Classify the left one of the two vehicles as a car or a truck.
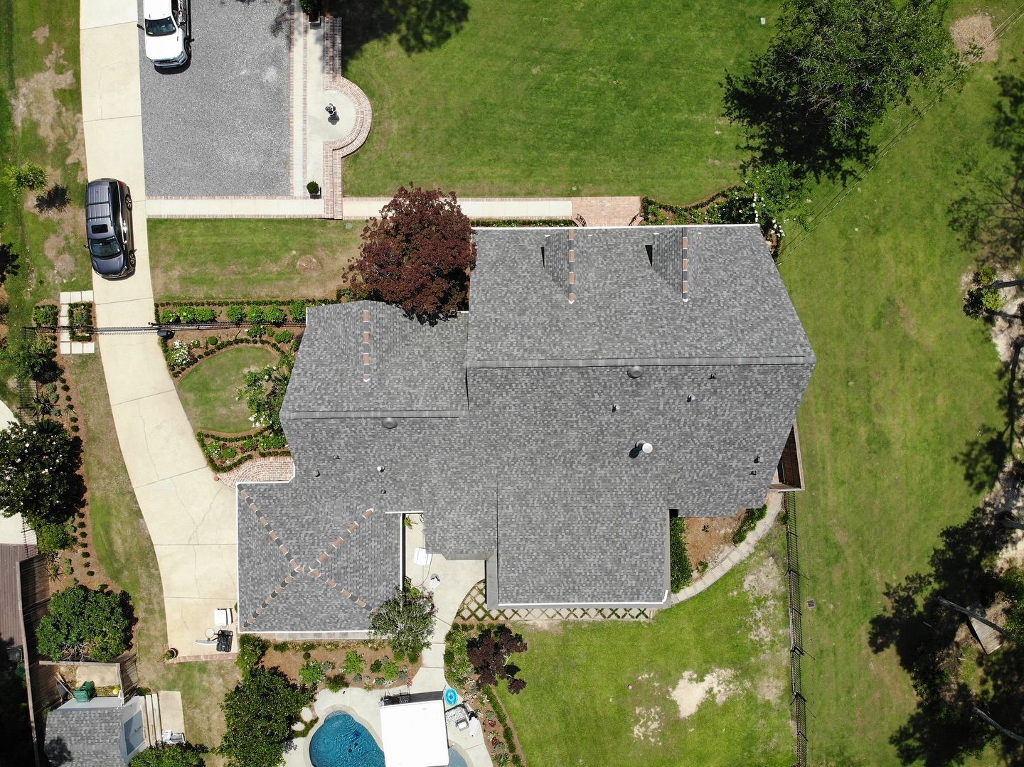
car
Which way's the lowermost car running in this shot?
vertically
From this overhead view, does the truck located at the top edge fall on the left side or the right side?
left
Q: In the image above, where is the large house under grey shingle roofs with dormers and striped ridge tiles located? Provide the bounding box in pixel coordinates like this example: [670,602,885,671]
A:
[236,225,813,635]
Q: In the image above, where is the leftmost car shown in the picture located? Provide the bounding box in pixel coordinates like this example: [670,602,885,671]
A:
[86,177,139,280]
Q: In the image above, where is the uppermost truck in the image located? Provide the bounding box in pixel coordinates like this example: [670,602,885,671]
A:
[136,0,193,72]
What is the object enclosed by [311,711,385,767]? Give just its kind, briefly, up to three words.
swimming pool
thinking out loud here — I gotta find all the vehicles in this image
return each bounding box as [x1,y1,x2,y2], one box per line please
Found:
[86,177,139,280]
[136,0,193,72]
